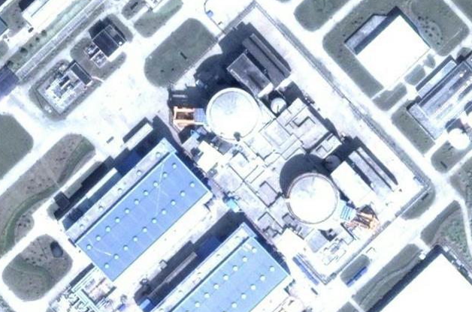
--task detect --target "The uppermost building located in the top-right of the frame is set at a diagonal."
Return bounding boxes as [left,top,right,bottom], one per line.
[344,15,387,50]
